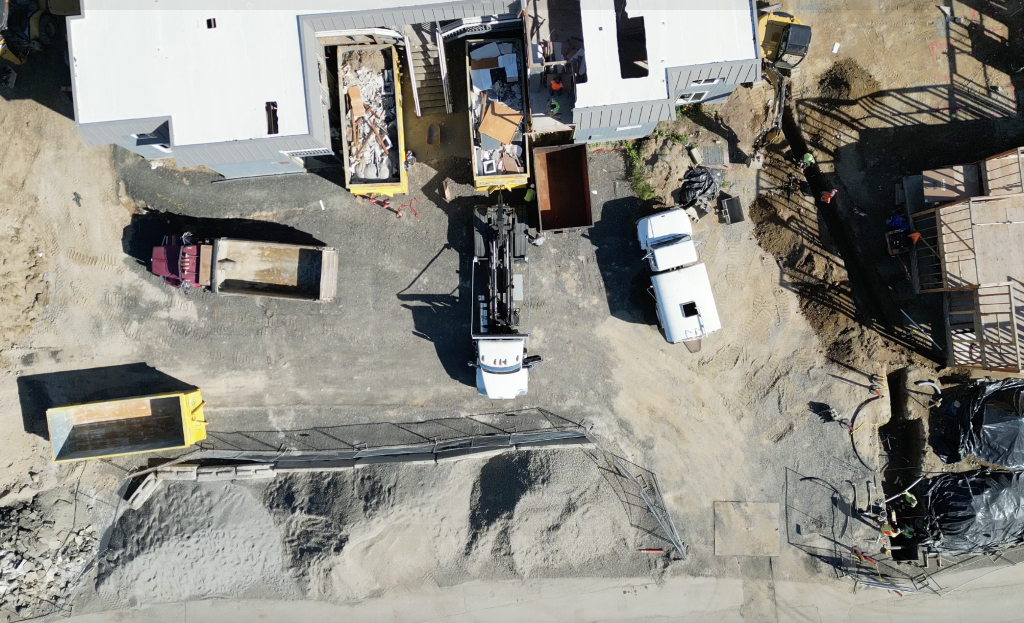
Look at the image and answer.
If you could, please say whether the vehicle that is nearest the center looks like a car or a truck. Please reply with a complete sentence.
From above, the vehicle that is nearest the center can be identified as a truck.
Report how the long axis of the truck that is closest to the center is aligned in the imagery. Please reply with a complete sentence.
In this picture, the truck that is closest to the center lies up and down.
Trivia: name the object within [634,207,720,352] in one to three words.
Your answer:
truck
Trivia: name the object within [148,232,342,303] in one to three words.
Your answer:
truck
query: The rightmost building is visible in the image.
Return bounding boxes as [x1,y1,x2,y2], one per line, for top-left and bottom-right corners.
[896,147,1024,379]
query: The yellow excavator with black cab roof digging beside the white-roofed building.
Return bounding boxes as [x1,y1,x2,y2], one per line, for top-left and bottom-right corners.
[746,10,816,168]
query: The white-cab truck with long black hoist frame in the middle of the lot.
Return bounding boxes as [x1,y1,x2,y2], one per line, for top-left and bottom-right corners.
[469,184,539,399]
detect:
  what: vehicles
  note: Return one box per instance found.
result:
[634,207,720,352]
[148,232,342,303]
[469,184,539,399]
[746,10,816,168]
[0,0,62,66]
